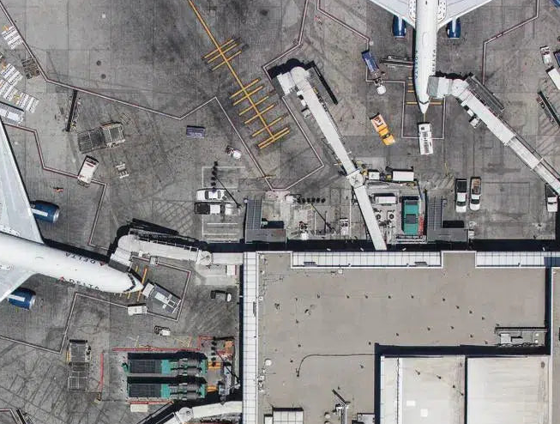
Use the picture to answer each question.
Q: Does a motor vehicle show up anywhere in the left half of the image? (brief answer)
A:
Yes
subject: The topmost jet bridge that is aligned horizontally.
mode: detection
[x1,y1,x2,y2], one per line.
[106,224,243,272]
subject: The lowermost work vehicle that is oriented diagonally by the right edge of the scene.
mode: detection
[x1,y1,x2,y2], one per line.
[536,91,560,128]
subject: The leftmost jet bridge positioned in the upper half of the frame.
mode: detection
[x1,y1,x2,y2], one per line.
[269,66,394,251]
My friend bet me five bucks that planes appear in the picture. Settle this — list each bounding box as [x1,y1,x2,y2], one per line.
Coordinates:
[0,124,144,308]
[368,0,494,114]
